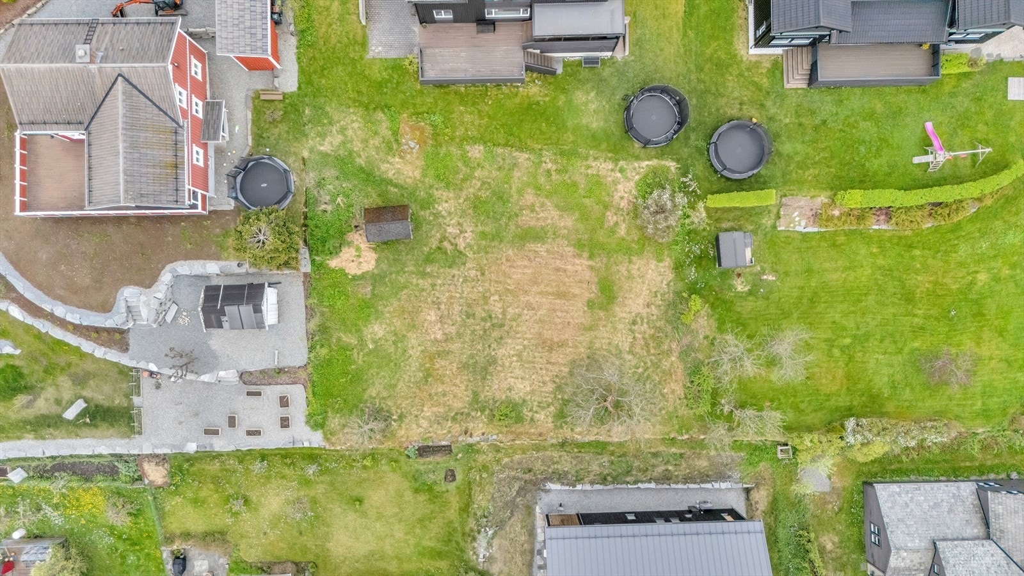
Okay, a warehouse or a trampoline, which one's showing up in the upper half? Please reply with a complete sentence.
Looking in the upper half, you will find a trampoline.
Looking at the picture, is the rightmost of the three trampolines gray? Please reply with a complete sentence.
Yes, gray is the color of the rightmost of the three trampolines.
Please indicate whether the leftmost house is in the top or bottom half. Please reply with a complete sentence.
The leftmost house is in the top half of the image.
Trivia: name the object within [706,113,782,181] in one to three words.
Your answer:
trampoline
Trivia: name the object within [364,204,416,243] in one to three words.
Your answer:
shed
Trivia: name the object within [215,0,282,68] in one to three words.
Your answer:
building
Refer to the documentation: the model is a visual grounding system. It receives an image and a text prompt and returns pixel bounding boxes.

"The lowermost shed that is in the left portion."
[199,281,280,330]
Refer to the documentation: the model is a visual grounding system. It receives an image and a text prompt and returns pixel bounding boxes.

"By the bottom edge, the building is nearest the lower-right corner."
[862,477,1024,576]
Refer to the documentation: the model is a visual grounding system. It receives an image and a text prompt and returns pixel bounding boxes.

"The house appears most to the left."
[0,16,234,218]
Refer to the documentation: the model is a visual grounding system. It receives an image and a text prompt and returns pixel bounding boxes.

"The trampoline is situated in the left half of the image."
[224,152,295,216]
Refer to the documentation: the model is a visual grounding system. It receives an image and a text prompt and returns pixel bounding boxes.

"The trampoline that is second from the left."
[621,81,690,149]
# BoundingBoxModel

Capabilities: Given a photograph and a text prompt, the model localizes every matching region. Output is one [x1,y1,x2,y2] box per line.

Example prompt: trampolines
[706,113,782,181]
[621,81,690,149]
[224,152,295,216]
